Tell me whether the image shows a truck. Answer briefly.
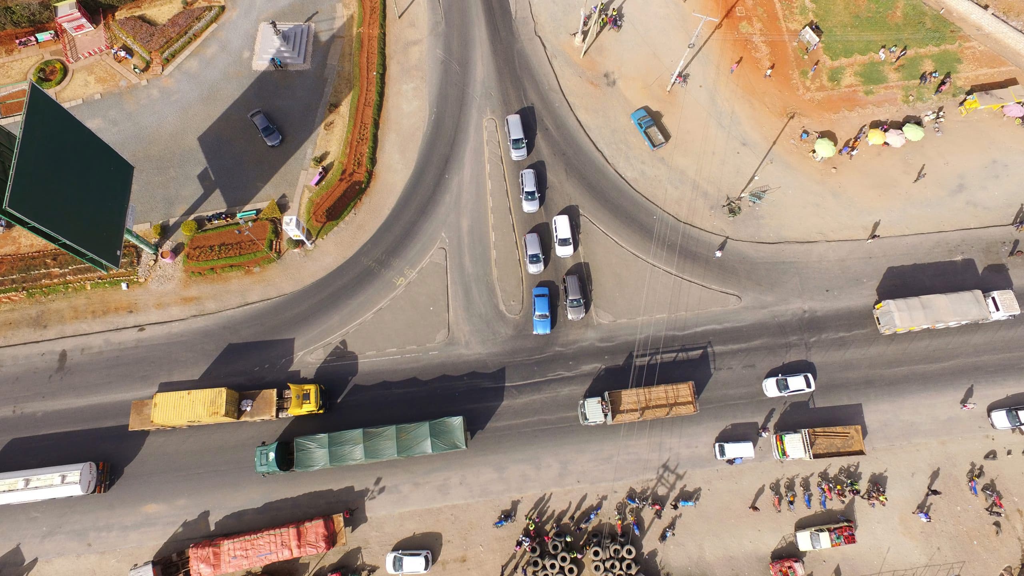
Yes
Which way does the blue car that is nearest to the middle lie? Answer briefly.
vertically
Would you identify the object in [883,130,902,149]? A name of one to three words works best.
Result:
umbrella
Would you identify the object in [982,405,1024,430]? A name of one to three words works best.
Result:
car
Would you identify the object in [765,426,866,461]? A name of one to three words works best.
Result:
truck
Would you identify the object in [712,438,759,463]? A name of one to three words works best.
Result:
vehicle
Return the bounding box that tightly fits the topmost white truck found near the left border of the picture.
[0,461,109,505]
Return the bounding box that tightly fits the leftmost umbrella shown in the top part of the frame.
[813,139,832,159]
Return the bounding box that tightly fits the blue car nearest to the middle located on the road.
[531,287,554,335]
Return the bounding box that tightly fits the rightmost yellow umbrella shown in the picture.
[864,130,883,147]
